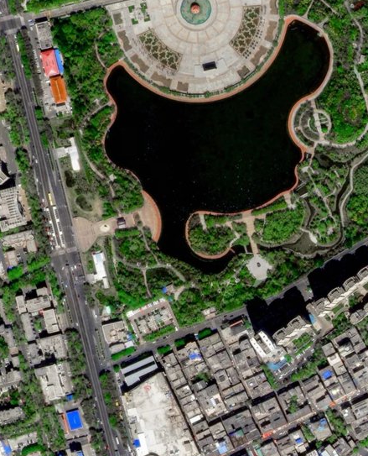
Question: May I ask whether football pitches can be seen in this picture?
No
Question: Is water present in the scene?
Yes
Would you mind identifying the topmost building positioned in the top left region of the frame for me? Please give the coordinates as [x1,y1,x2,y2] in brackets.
[36,21,54,51]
